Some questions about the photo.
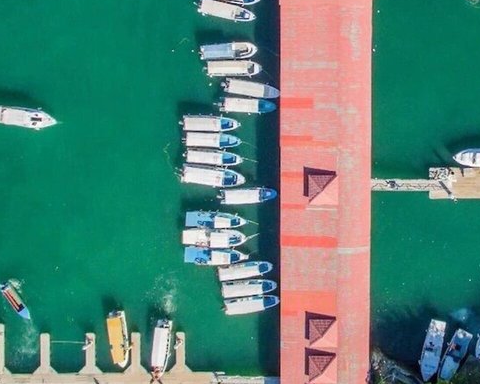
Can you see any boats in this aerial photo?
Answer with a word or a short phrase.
Yes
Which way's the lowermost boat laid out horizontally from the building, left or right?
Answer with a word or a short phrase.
to the left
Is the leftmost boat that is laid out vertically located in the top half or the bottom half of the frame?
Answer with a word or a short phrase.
bottom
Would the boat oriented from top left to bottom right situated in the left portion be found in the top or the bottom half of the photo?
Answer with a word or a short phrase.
bottom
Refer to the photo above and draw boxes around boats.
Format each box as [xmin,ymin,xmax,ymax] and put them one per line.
[180,166,278,187]
[453,150,480,168]
[218,277,278,297]
[218,78,278,100]
[421,318,446,382]
[198,42,278,62]
[215,98,277,116]
[442,329,471,380]
[216,261,279,281]
[109,308,134,368]
[181,116,241,133]
[181,228,258,247]
[184,150,256,168]
[150,315,174,379]
[221,294,279,316]
[0,108,59,131]
[184,247,257,265]
[184,211,256,229]
[196,0,278,23]
[215,187,278,204]
[204,59,276,80]
[0,281,30,319]
[183,133,257,151]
